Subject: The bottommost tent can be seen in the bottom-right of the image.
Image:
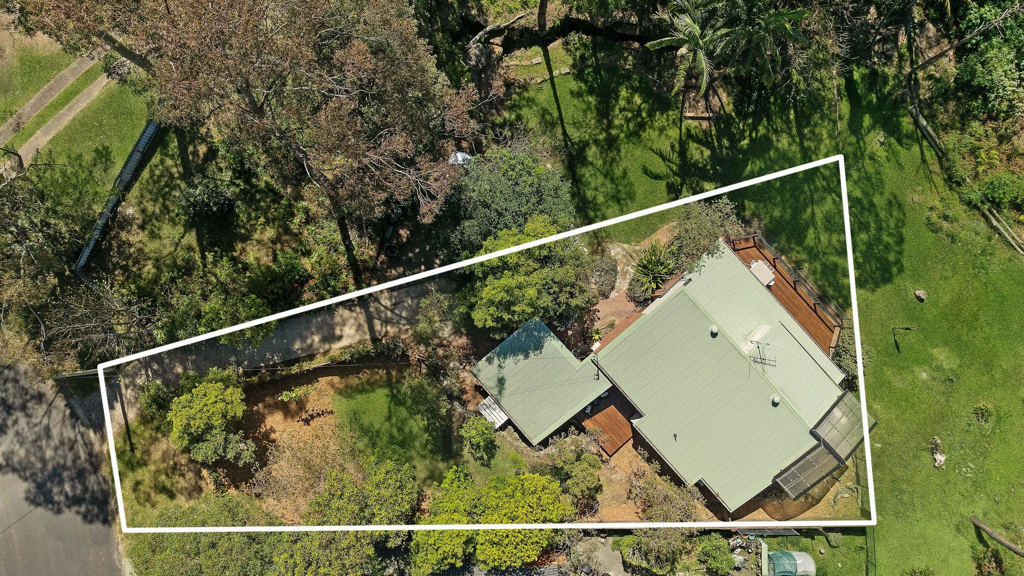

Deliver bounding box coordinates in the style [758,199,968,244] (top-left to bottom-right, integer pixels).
[773,549,819,576]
